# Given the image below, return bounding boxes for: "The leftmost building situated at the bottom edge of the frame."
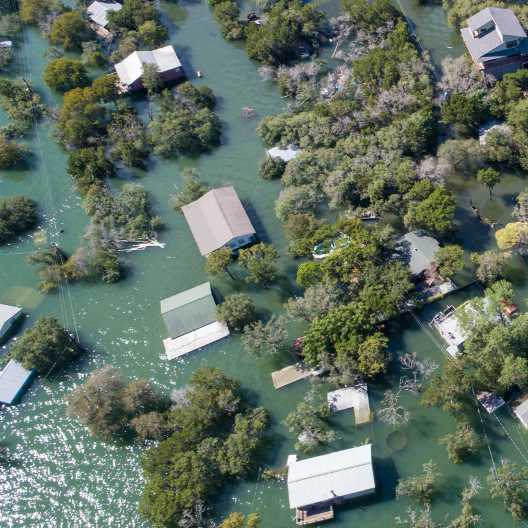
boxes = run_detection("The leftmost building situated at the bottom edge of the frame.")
[287,443,376,526]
